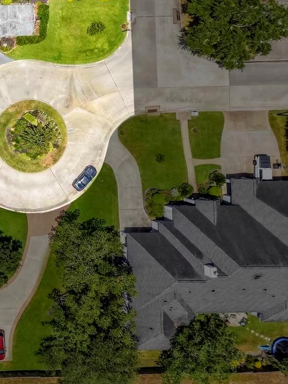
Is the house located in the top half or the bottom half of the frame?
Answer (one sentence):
The house sits in the bottom half of the picture.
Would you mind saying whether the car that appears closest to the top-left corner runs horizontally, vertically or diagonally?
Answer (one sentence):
The car that appears closest to the top-left corner is laid out diagonally.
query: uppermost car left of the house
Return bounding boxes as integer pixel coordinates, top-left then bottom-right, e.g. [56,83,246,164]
[73,163,100,193]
